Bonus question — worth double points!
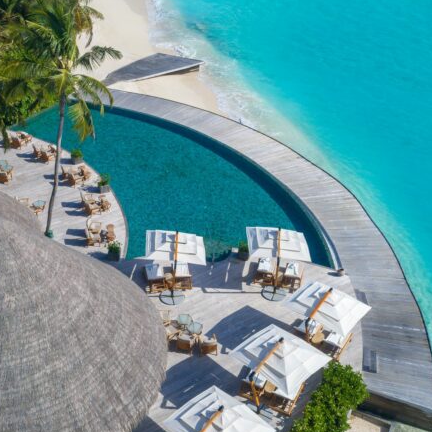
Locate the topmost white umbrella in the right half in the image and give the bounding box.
[246,228,311,306]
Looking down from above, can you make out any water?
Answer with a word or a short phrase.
Yes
